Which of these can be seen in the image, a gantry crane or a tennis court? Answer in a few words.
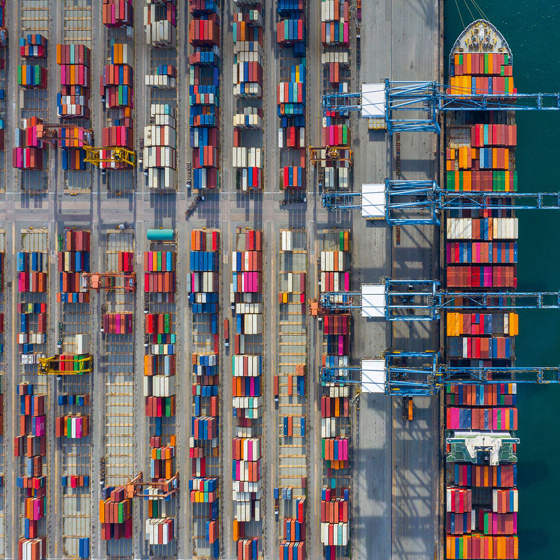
gantry crane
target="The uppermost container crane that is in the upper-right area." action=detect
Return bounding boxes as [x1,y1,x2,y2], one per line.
[321,78,560,139]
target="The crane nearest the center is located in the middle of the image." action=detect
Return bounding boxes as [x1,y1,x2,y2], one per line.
[307,296,354,319]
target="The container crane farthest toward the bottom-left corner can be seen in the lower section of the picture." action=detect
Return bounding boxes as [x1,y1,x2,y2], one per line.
[126,470,181,499]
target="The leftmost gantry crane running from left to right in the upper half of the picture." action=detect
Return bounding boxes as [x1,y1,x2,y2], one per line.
[36,123,94,149]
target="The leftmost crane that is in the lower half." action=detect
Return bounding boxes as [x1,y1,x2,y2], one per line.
[36,352,94,375]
